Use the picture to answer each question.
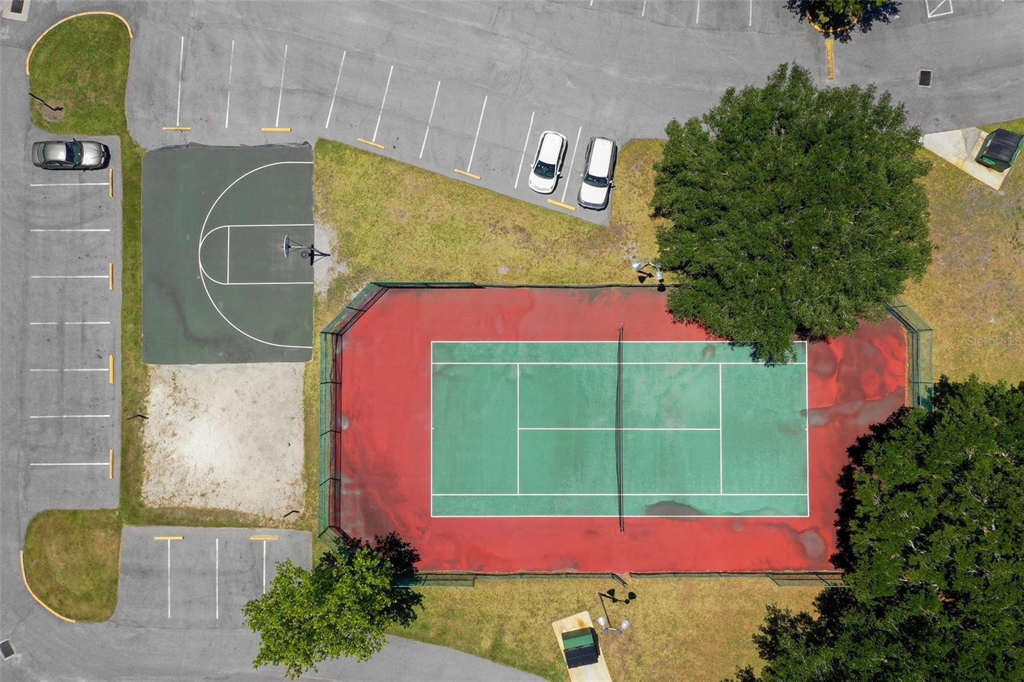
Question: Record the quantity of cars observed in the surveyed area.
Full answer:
The count of cars comes to 3.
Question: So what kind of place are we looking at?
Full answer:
The picture captures a sports ground.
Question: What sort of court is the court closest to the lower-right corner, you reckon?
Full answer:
It turns out the court closest to the lower-right corner is a tennis court.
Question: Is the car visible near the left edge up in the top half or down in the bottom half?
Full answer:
The top half of the photo is where the car visible near the left edge is.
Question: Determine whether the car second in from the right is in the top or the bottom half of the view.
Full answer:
It is in the top half that the car second in from the right appears.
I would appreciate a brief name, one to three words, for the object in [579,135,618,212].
car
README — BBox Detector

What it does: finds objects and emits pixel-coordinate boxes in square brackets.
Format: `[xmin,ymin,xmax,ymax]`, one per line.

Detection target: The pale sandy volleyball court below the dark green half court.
[141,362,306,518]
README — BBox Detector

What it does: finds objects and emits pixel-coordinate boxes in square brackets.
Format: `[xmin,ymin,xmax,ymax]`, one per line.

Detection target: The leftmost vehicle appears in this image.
[32,137,109,171]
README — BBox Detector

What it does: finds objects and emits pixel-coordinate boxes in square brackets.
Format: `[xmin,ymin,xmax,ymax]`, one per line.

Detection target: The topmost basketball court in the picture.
[142,144,313,364]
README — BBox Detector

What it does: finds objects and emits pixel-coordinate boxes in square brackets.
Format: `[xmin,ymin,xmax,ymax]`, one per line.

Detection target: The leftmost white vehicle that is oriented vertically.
[530,129,567,196]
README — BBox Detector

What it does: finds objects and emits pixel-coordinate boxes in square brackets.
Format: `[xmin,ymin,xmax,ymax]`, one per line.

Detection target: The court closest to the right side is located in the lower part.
[332,287,906,573]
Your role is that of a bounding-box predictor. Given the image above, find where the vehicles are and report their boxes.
[32,137,109,171]
[530,129,567,196]
[579,135,618,212]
